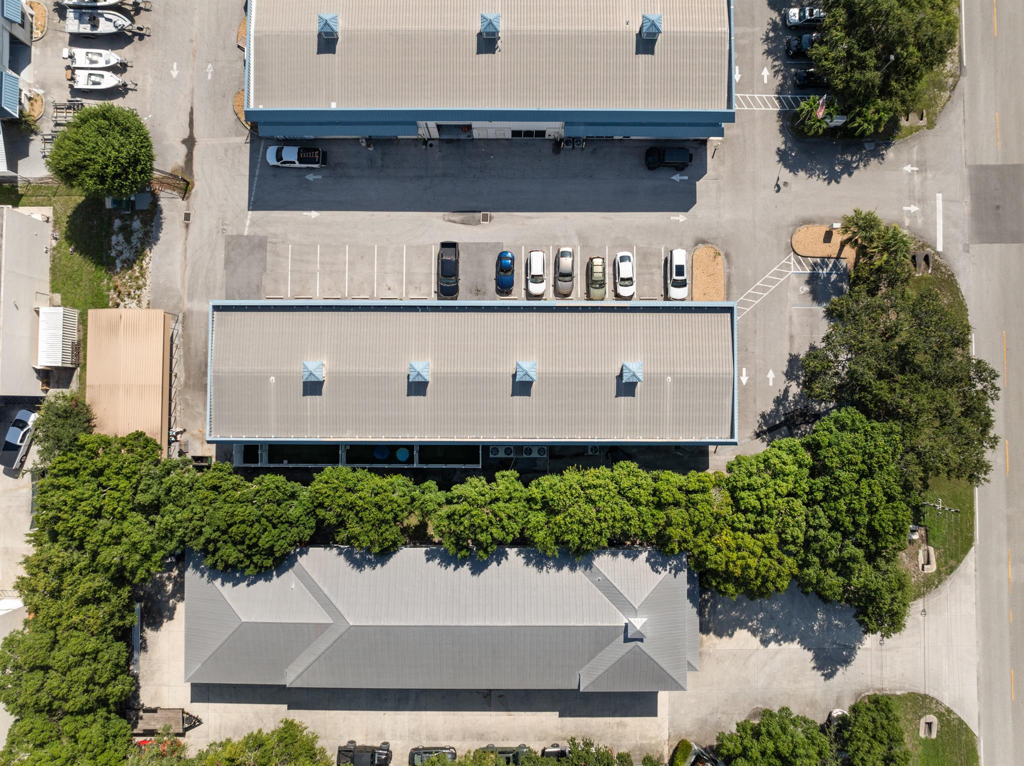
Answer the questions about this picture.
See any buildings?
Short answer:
Yes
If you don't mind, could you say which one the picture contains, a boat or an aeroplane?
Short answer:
boat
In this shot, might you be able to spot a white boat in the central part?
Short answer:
No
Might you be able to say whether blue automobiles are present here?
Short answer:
Yes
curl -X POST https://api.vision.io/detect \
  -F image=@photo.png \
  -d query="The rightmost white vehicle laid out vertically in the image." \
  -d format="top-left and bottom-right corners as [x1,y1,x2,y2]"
[665,248,691,300]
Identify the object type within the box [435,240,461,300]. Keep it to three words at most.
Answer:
truck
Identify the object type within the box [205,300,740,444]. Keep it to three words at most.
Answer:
building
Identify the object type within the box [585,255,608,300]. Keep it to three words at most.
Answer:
car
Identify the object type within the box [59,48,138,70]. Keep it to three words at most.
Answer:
boat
